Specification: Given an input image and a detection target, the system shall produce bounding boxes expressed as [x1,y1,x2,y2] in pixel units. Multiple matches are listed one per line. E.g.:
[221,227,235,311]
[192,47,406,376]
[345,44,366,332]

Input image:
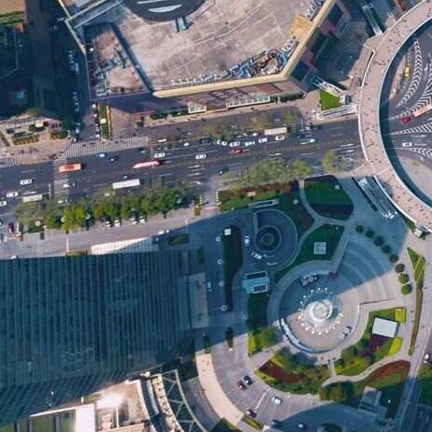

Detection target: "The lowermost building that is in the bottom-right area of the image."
[360,385,388,421]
